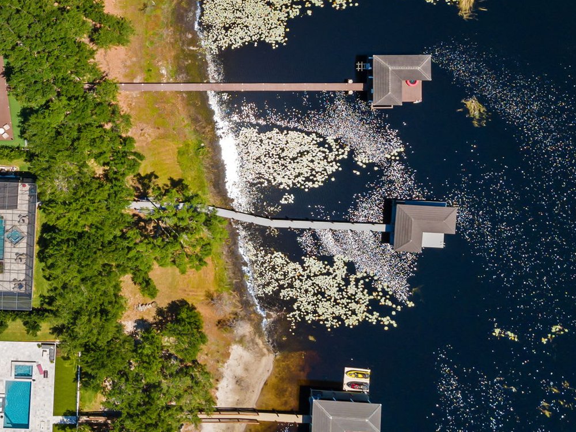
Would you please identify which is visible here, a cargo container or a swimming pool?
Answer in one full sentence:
Looking from above, you can make out a swimming pool.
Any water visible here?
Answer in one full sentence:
Yes, the picture does contain water.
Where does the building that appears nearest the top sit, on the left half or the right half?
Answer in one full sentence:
The building that appears nearest the top is on the right side of the image.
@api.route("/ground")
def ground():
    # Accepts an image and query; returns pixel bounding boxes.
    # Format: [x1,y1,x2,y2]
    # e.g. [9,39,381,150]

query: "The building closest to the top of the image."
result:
[363,54,432,108]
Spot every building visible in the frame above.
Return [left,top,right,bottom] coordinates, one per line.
[381,200,459,253]
[363,54,432,108]
[298,387,383,432]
